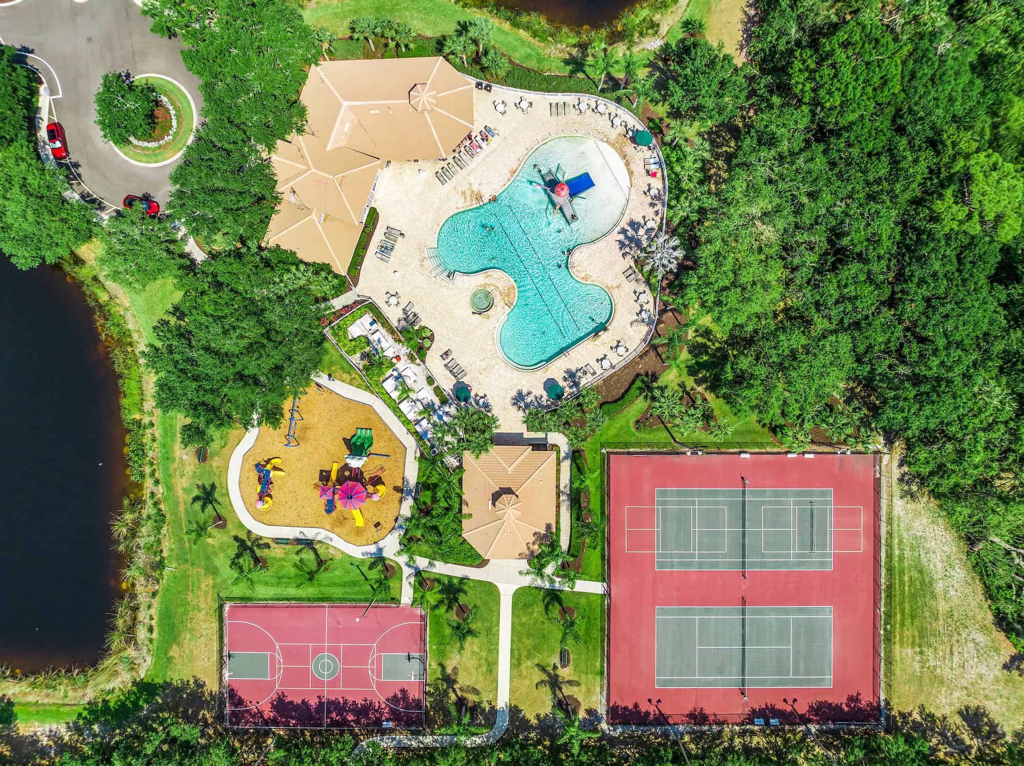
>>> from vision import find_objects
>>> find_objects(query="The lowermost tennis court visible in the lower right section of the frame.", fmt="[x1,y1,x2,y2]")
[656,607,833,688]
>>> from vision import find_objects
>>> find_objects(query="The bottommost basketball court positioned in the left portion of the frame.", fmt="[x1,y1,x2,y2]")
[226,605,425,730]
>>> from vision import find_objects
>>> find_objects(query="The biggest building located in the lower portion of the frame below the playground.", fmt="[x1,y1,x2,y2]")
[462,445,557,560]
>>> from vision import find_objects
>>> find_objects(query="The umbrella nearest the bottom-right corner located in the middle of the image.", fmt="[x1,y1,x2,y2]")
[547,383,564,400]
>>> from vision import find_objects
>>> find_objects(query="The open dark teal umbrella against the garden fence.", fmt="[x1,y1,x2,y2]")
[455,384,472,401]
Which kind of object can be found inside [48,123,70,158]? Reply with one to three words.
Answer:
car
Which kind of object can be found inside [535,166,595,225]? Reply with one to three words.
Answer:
playground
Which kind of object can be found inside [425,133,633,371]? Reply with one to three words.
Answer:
swimming pool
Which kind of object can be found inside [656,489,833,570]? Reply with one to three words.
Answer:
tennis court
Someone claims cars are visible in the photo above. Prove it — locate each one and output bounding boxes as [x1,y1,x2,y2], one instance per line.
[124,196,160,215]
[48,123,70,158]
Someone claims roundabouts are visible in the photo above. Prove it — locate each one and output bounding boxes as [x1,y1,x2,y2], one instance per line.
[103,72,198,167]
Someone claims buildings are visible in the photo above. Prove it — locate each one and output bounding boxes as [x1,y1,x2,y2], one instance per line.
[265,56,474,275]
[462,445,557,560]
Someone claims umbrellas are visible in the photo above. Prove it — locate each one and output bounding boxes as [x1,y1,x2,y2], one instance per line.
[547,383,564,400]
[636,129,652,146]
[455,384,472,401]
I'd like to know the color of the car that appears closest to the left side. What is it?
red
